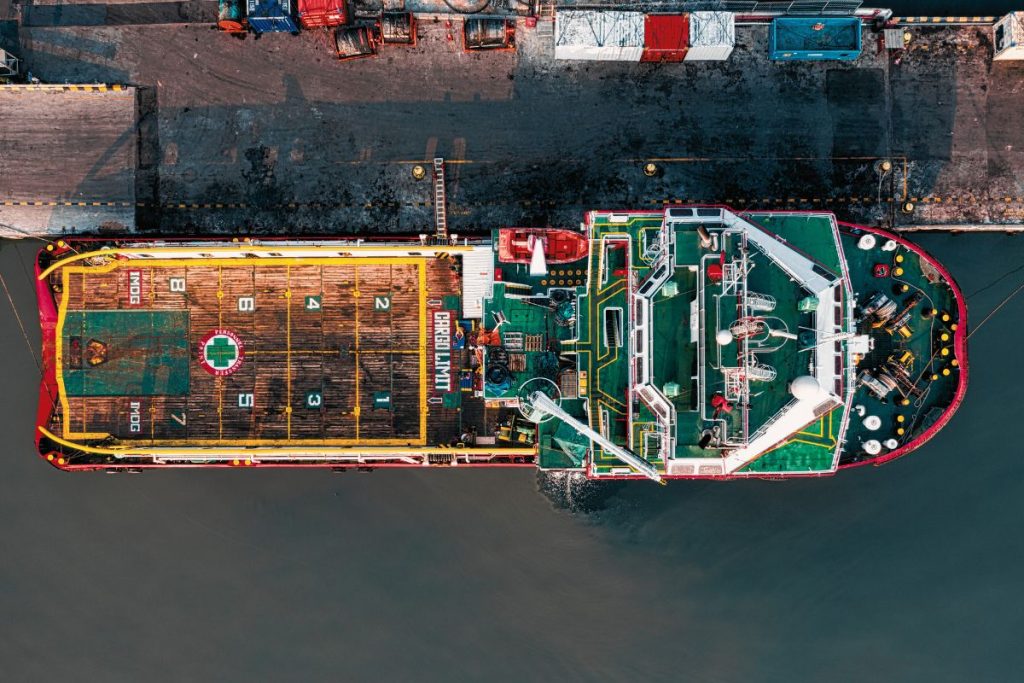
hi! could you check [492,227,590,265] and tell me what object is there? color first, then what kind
red boat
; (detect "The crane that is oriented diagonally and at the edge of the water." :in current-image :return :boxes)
[519,374,669,488]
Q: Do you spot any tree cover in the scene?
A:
No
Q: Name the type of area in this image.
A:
port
